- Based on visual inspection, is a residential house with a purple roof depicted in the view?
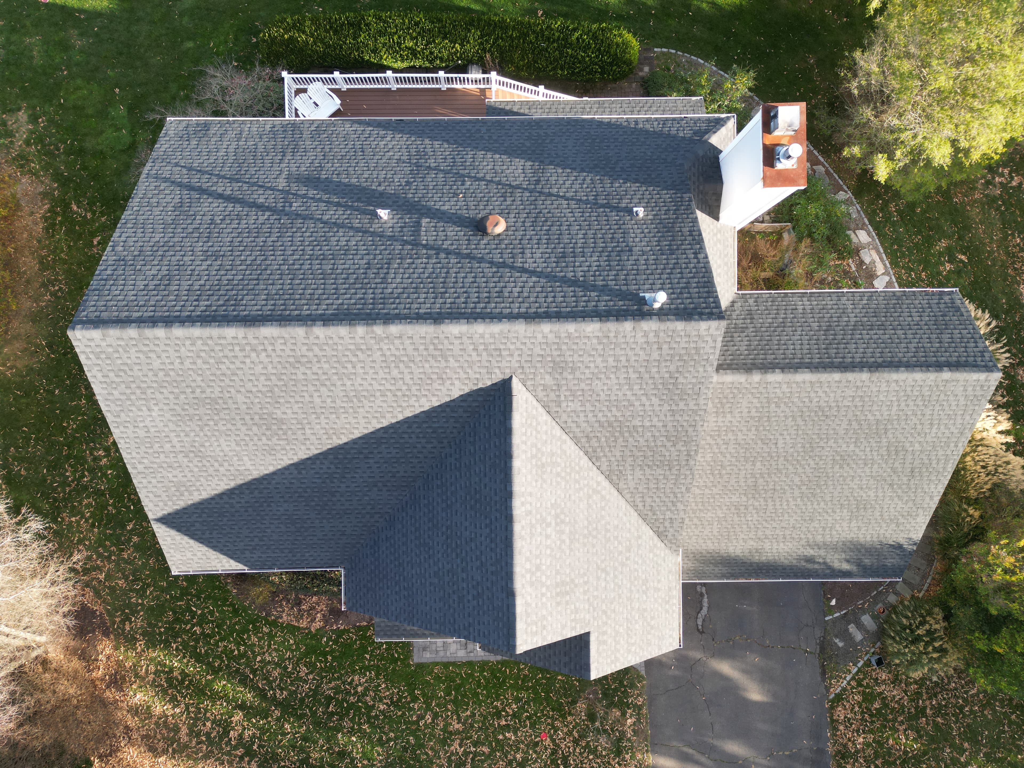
No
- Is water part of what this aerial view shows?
No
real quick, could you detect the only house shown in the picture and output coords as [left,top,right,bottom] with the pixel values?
[68,97,1002,680]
